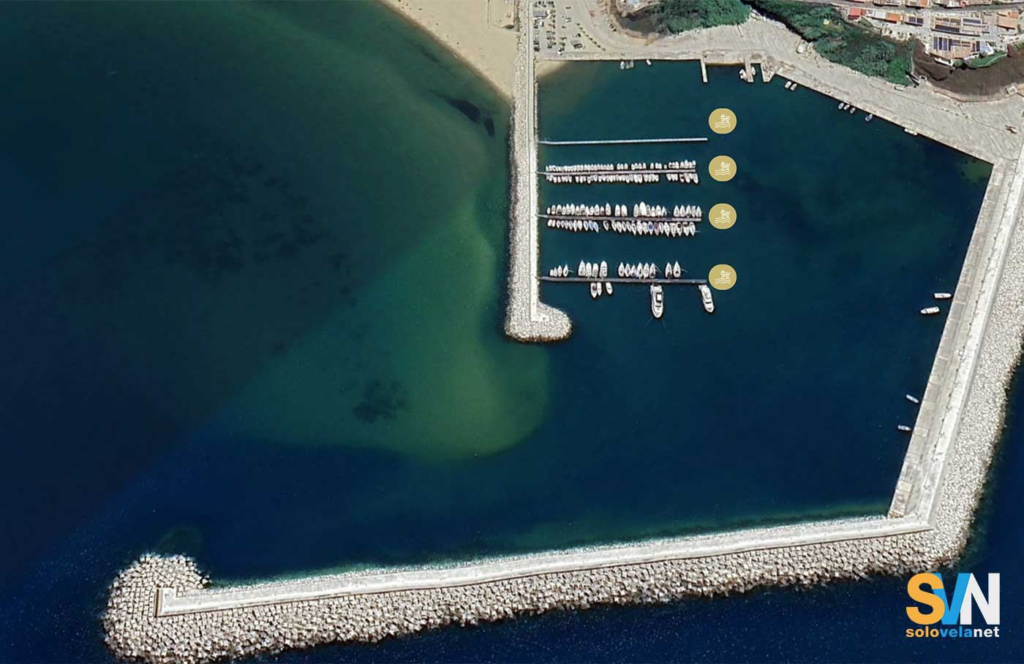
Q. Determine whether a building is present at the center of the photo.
No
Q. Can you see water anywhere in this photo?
Yes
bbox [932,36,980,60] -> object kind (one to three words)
building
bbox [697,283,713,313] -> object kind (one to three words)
boat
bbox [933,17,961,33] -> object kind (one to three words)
house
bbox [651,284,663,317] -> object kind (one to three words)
boat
